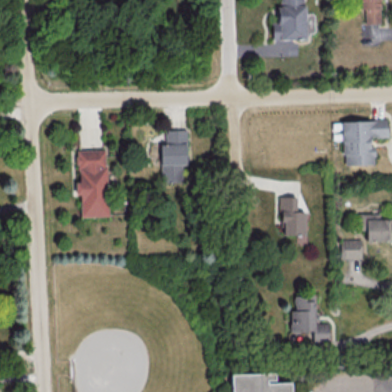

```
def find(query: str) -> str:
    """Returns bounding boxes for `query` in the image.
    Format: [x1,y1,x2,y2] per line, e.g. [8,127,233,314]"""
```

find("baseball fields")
[55,262,206,392]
